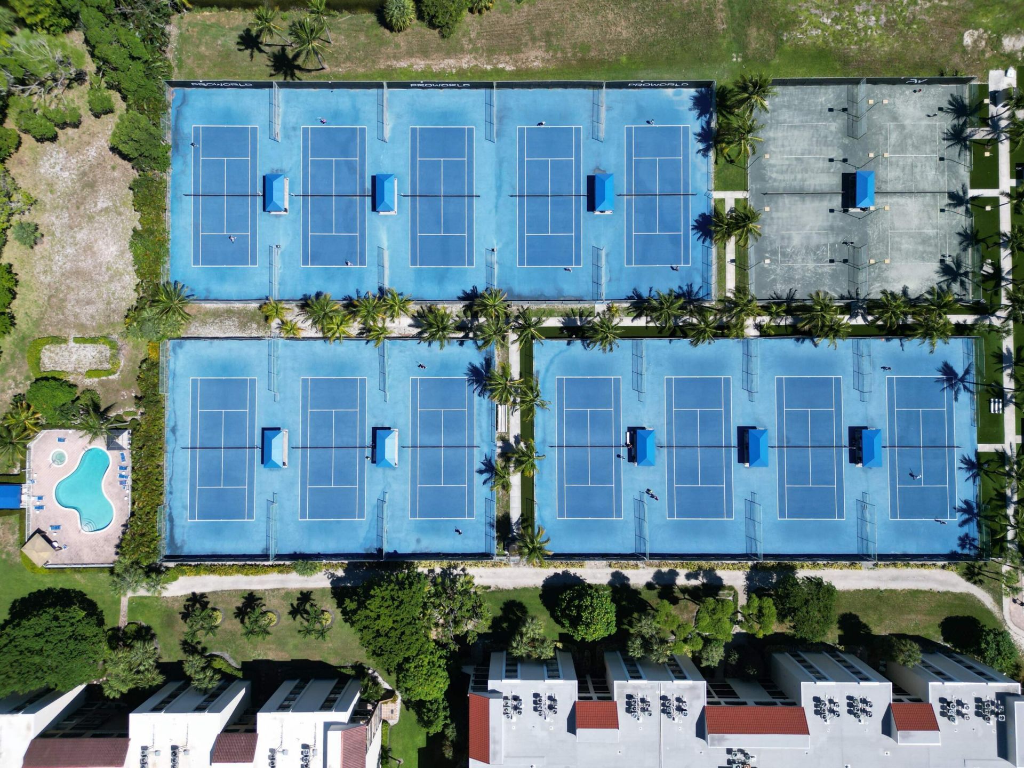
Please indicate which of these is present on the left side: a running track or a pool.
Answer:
pool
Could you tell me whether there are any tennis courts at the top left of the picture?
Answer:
Yes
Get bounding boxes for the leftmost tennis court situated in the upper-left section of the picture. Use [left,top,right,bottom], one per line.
[170,89,280,301]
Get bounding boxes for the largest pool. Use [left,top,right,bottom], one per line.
[53,445,116,534]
